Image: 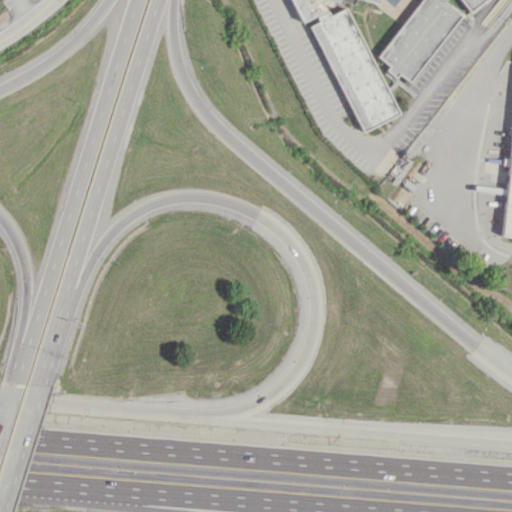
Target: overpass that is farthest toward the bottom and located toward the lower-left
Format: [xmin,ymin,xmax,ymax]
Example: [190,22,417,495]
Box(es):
[0,378,56,512]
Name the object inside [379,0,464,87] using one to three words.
building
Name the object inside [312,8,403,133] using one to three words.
building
